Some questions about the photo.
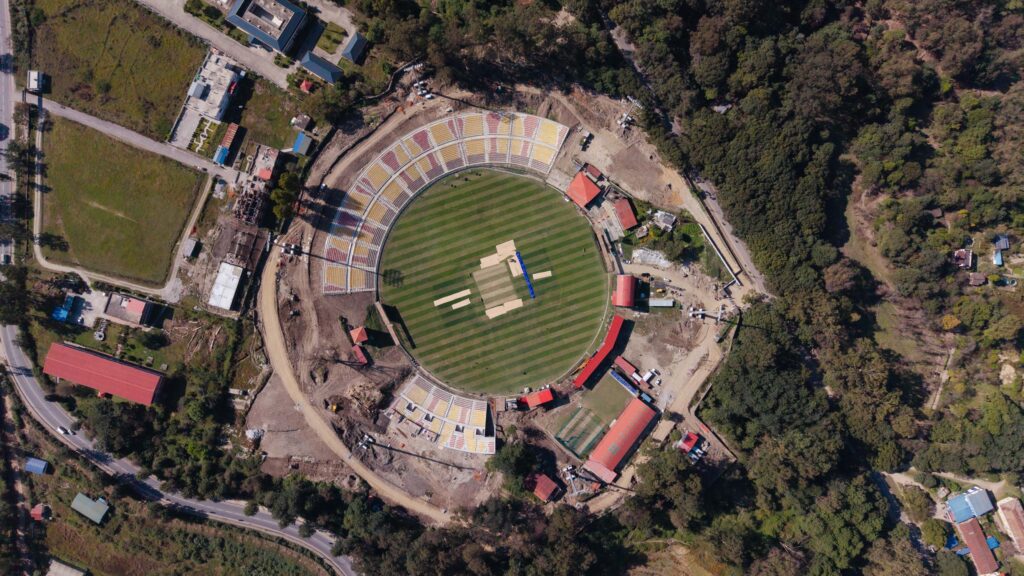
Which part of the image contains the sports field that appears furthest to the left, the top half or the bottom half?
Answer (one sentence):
The top half of the photo is where the sports field that appears furthest to the left is.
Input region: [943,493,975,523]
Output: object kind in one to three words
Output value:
house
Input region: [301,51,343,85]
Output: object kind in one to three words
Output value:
building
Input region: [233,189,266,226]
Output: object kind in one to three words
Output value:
building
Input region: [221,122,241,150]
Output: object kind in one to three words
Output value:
shed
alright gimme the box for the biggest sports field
[379,168,609,394]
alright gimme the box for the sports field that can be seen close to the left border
[42,112,206,287]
